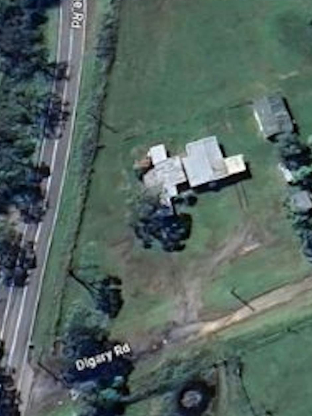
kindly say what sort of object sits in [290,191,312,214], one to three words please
shed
